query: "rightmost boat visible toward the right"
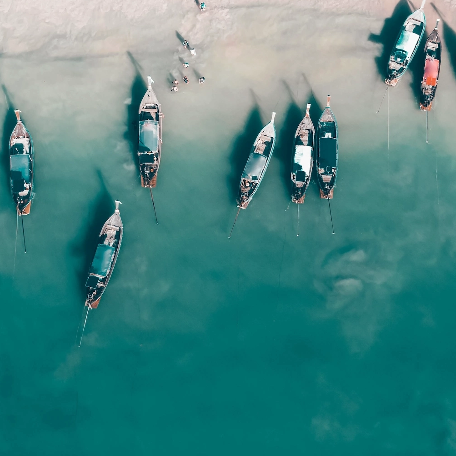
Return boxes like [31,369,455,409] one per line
[420,19,442,124]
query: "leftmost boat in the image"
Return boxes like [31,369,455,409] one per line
[10,110,36,253]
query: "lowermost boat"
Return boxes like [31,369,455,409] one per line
[78,199,125,347]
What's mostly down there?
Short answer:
water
